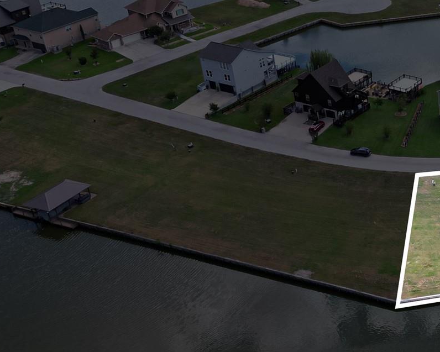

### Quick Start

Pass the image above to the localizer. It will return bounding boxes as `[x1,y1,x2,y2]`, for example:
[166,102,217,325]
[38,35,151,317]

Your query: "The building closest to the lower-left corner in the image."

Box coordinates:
[4,177,101,238]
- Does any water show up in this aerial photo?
Yes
